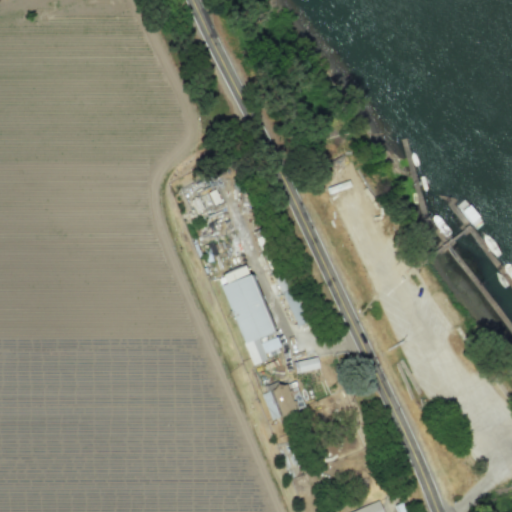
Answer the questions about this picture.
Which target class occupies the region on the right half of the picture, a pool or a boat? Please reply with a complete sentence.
Visible on the right half of the picture is a boat.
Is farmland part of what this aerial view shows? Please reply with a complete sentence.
Yes, farmland can be seen from above here.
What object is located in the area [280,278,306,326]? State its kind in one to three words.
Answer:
shed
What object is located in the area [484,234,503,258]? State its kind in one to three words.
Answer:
boat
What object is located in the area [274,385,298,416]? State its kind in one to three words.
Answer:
house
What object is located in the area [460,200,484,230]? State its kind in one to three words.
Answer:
boat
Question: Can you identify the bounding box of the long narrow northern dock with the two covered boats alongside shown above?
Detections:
[402,138,428,216]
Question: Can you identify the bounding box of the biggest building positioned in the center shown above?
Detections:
[223,274,276,343]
